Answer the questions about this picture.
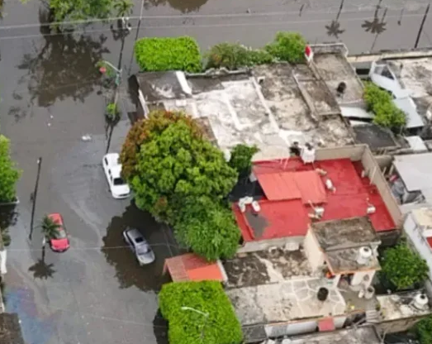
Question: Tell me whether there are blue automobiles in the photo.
No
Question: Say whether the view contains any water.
Yes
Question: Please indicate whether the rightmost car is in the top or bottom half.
bottom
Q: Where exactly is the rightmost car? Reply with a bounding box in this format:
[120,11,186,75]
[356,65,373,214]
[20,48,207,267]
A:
[122,224,156,264]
